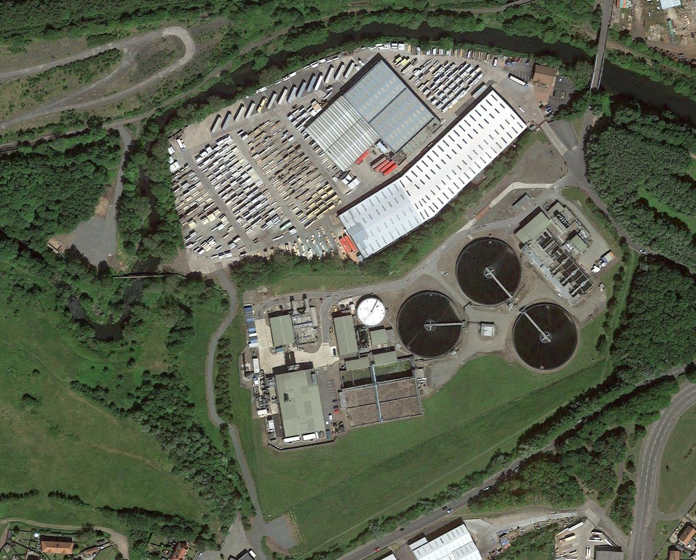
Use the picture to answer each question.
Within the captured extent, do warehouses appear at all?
Yes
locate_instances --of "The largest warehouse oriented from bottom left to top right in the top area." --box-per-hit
[338,89,527,260]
